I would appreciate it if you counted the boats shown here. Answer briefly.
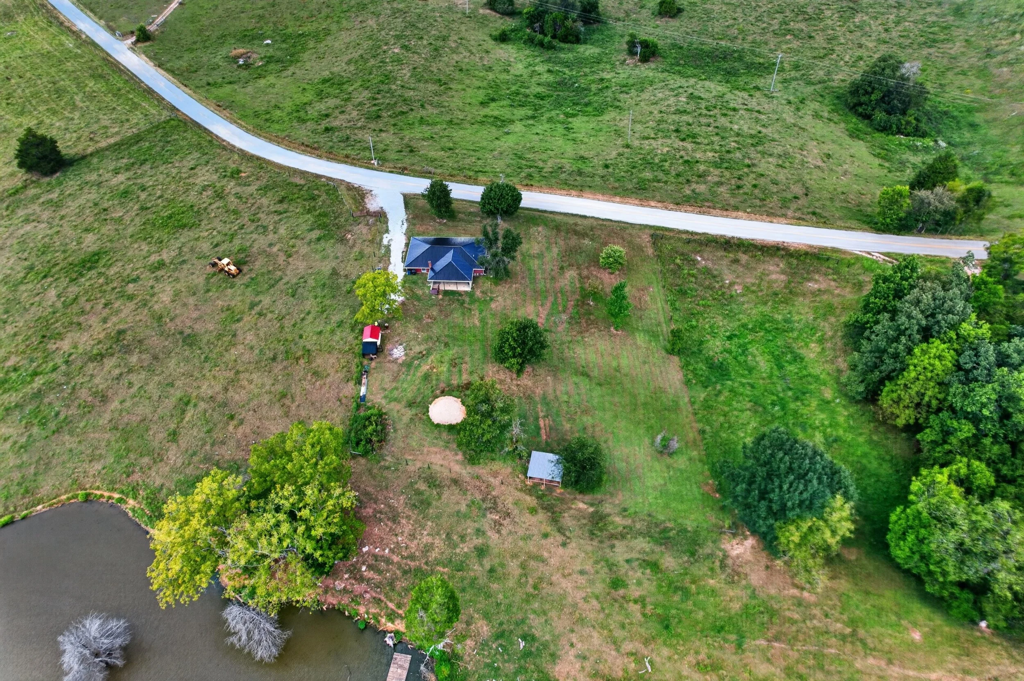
0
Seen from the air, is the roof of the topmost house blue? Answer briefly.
Yes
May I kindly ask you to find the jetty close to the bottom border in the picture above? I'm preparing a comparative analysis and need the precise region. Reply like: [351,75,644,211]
[387,653,411,681]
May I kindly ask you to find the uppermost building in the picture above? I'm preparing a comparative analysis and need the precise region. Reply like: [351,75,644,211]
[403,236,488,293]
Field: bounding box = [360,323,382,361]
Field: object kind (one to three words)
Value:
shed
